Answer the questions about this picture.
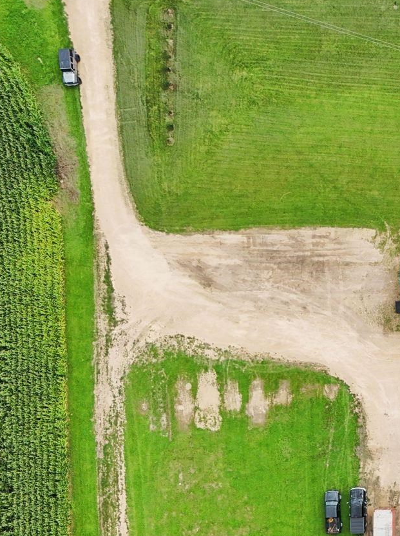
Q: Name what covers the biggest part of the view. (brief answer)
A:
grass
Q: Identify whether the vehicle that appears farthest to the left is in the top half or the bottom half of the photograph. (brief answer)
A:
top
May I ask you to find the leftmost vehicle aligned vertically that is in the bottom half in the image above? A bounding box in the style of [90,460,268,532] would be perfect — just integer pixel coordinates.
[325,488,343,535]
